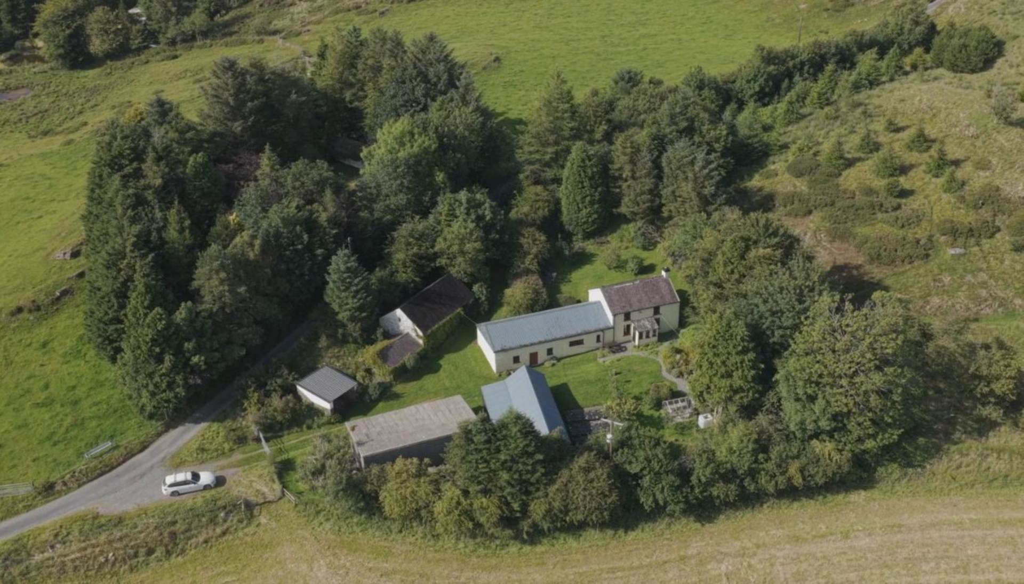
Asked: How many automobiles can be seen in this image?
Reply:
1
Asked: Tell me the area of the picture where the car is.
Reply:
bottom left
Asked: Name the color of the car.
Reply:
white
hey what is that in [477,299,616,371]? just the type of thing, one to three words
shed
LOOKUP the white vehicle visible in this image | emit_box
[162,467,217,494]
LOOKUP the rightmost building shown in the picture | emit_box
[587,263,683,344]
